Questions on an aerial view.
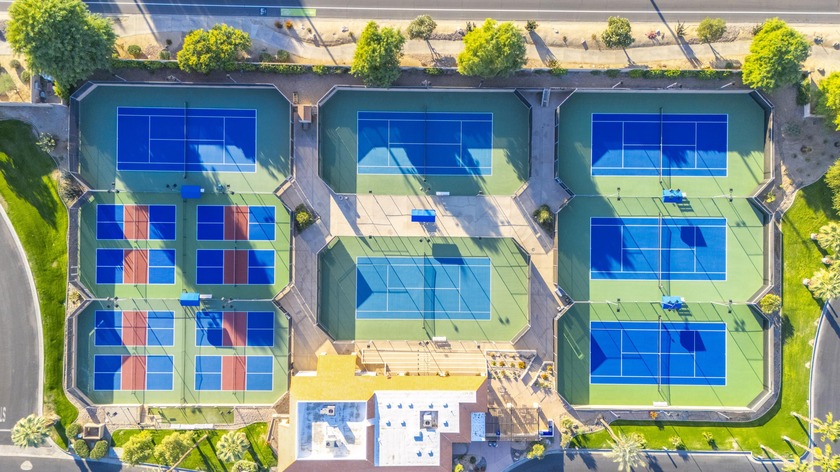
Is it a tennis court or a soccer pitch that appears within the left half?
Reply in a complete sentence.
Visible within the left half is a tennis court.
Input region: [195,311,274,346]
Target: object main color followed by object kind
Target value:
blue sports court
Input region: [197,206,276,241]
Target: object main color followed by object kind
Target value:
blue sports court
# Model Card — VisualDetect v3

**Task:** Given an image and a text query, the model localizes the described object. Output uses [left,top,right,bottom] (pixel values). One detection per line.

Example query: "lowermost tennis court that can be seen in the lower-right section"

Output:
[561,302,764,406]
